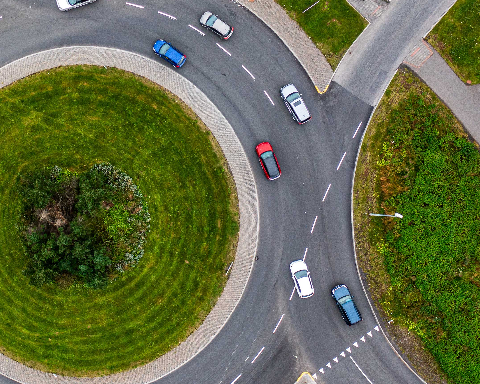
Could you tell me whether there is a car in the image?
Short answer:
Yes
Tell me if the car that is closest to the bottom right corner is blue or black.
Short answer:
blue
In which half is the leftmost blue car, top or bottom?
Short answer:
top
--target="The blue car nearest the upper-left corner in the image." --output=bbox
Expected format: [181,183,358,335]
[151,39,188,69]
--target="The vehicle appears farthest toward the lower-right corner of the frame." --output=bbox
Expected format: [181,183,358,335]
[332,284,363,327]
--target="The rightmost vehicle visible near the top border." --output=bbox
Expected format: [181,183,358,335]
[199,11,235,40]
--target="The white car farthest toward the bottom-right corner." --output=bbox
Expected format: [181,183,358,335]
[289,260,314,299]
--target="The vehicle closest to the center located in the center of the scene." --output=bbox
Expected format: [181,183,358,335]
[256,141,283,182]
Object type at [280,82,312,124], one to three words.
car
